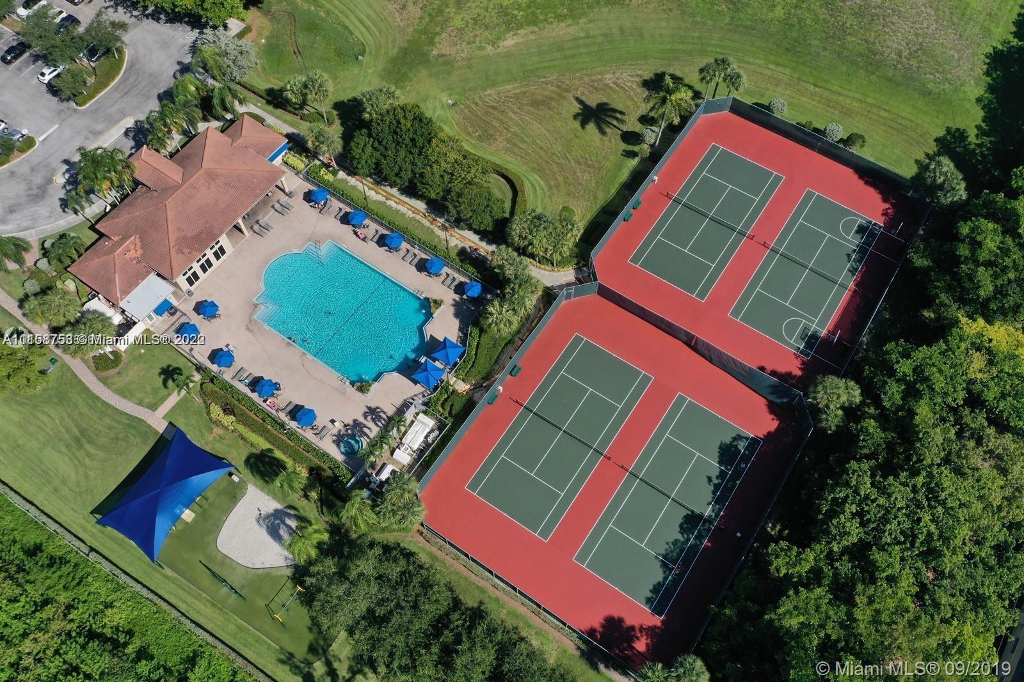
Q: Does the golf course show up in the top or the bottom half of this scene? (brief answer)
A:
top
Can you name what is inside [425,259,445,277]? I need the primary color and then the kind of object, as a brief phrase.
blue umbrella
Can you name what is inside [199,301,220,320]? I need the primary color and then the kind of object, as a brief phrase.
blue umbrella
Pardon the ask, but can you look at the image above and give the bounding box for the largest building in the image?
[67,113,294,329]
